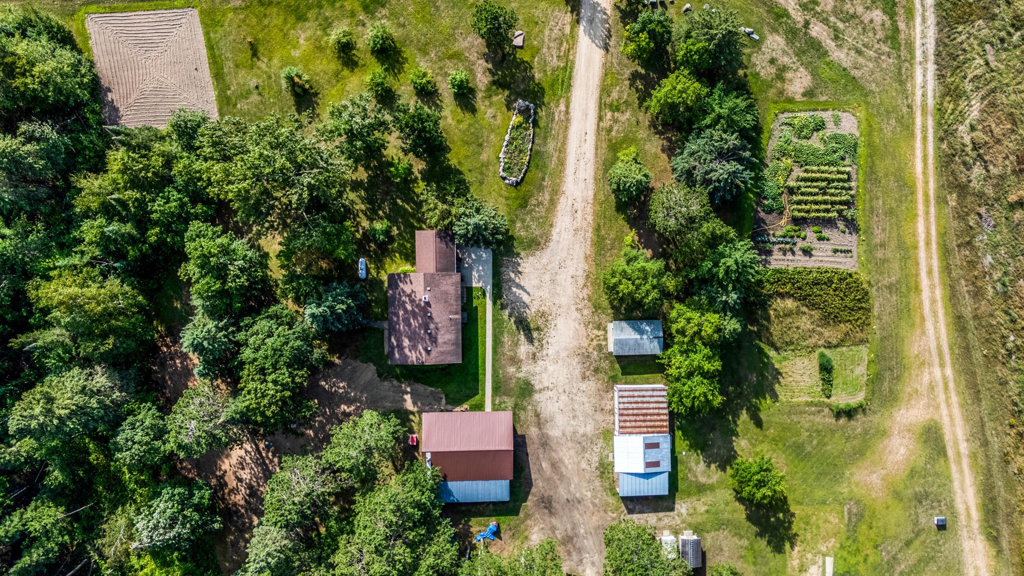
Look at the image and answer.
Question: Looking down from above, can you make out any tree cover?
Yes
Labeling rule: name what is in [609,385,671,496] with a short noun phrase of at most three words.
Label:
shed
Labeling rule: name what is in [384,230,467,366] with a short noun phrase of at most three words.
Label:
house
